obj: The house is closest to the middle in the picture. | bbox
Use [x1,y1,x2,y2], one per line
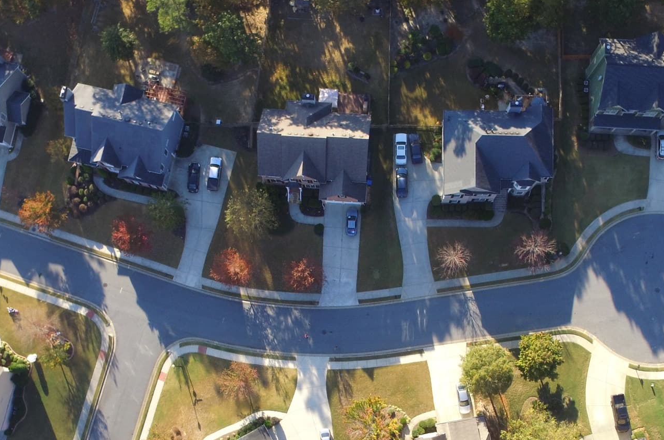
[256,92,372,208]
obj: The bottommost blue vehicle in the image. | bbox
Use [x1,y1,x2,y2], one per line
[345,207,359,238]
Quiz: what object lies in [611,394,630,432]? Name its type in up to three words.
vehicle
